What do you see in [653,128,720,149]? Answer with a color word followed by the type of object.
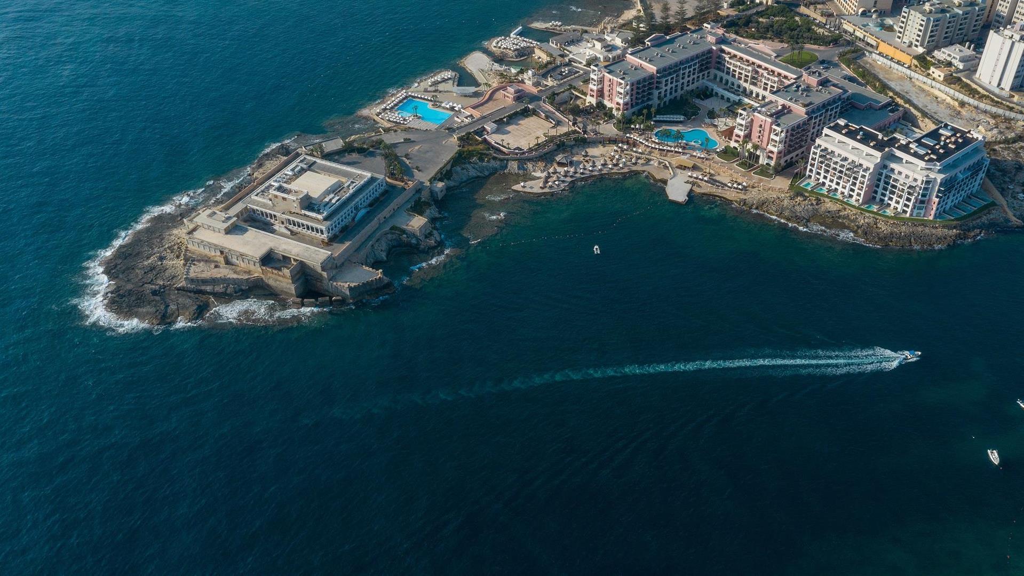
blue swimming pool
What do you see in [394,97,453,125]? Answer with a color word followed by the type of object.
blue swimming pool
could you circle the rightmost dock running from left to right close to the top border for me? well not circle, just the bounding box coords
[530,23,594,35]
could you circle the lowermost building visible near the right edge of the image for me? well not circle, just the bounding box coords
[808,118,992,219]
